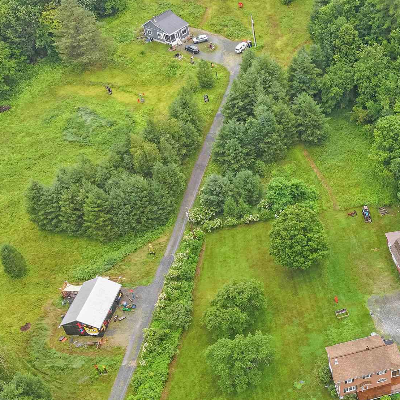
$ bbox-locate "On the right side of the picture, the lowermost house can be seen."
[326,335,400,400]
